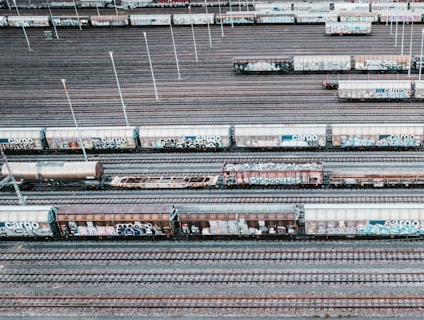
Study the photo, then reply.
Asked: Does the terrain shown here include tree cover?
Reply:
No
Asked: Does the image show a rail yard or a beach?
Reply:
rail yard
